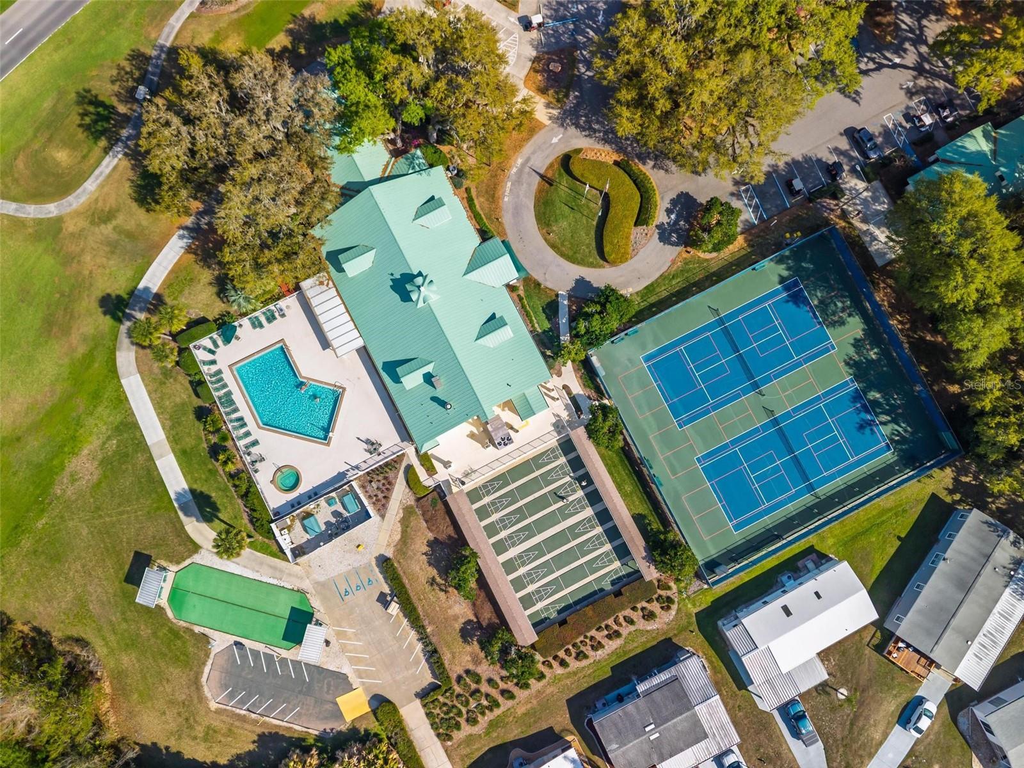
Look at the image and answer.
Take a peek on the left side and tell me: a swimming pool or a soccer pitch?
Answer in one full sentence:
There is a swimming pool on the left side.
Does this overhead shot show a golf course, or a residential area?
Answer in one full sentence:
This image shows a residential area.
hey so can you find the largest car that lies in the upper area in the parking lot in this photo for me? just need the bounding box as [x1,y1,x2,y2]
[856,122,883,158]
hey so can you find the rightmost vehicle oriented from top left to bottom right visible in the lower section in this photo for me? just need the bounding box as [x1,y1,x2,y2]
[788,700,821,743]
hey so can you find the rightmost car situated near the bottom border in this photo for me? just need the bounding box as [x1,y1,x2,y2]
[908,698,937,735]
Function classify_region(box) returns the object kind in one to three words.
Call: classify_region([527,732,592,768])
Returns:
house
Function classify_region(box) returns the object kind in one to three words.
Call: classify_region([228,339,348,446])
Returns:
swimming pool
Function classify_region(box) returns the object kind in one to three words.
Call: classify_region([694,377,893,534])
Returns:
tennis court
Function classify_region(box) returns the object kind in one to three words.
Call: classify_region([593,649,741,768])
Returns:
house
